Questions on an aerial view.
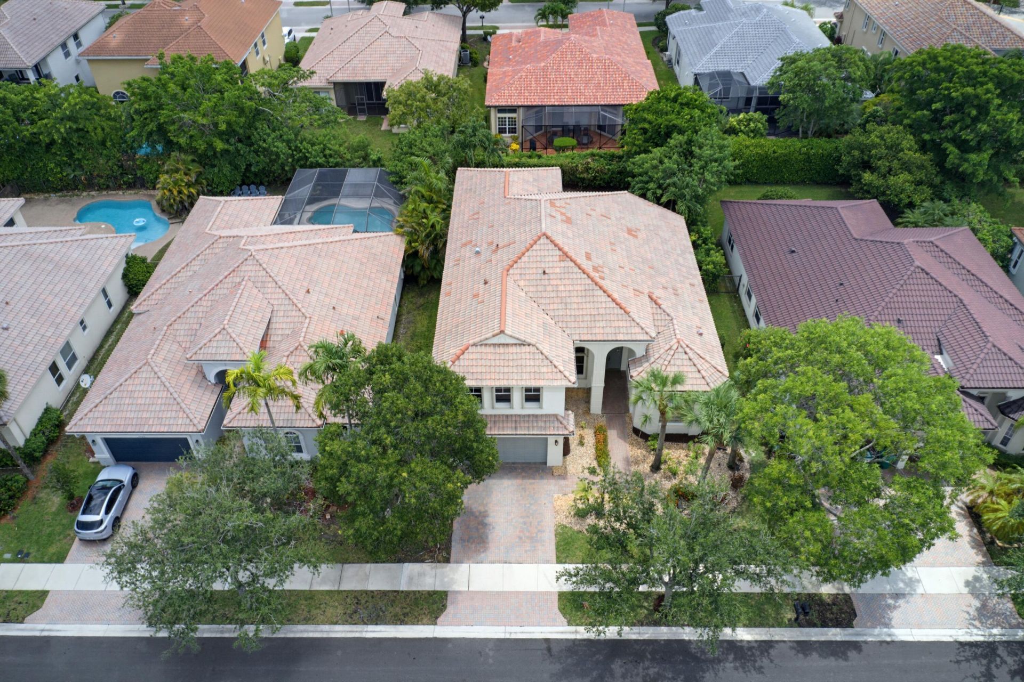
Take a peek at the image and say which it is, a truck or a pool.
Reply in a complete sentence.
Of the two, only a pool appears.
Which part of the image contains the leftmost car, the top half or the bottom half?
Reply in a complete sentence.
It is in the bottom half that the leftmost car appears.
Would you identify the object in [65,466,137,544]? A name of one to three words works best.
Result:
car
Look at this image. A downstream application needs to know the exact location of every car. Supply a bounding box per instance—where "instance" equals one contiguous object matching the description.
[65,466,137,544]
[282,25,297,49]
